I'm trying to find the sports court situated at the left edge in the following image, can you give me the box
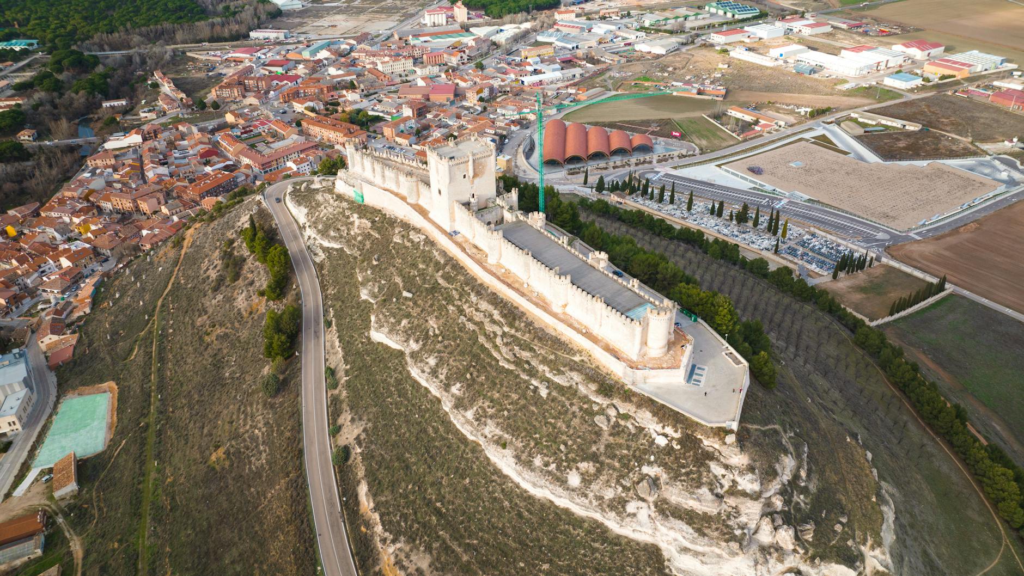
[32,393,110,468]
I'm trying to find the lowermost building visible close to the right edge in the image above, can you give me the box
[722,139,1003,235]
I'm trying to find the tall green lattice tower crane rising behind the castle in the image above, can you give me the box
[509,86,676,202]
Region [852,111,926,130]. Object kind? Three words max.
shed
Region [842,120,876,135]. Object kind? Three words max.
shed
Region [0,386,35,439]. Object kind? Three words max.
building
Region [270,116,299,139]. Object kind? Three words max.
building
